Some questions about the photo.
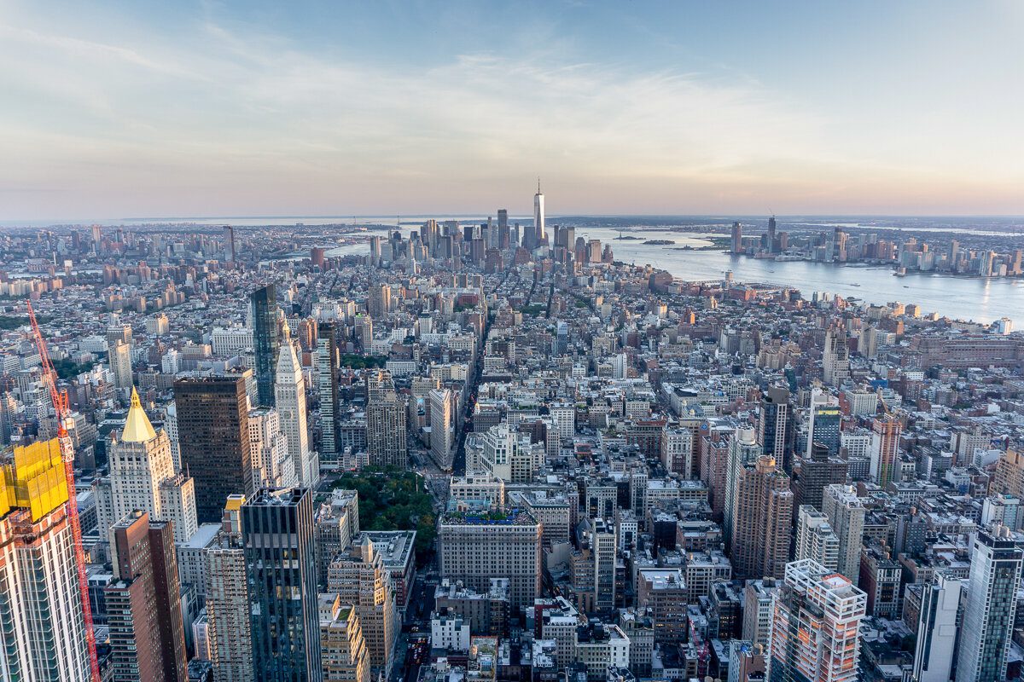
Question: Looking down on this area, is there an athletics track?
No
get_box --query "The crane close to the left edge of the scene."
[25,300,106,682]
